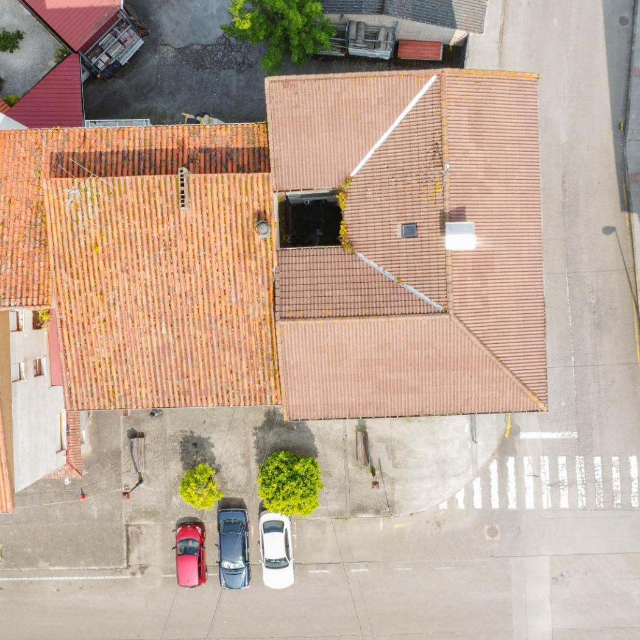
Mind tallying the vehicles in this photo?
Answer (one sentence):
My tally gives 3 vehicles in this view.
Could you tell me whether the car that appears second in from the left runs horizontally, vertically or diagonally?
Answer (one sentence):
What the image shows is the car that appears second in from the left lying vertically.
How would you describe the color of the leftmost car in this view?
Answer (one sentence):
From above, the leftmost car appears red.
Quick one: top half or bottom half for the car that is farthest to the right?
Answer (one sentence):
You can find the car that is farthest to the right in the bottom half.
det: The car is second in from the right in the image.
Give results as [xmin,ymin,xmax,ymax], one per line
[216,507,251,587]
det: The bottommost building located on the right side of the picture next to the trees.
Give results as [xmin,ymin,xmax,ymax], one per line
[264,67,551,425]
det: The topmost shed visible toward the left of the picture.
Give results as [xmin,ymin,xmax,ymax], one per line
[26,0,133,67]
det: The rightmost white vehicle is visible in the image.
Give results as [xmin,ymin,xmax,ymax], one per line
[259,510,296,586]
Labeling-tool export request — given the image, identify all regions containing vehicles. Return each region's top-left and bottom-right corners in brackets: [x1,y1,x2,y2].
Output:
[259,510,296,586]
[216,507,251,587]
[174,521,208,587]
